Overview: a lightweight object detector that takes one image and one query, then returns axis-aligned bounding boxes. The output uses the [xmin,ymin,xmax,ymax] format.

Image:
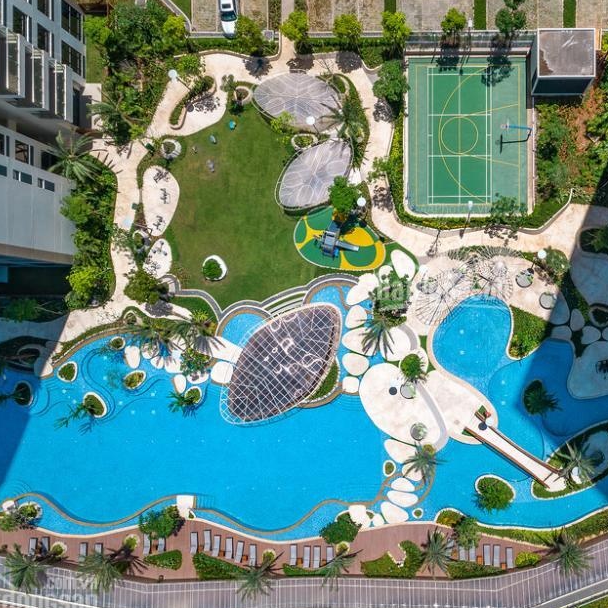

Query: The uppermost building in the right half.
[533,28,596,100]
